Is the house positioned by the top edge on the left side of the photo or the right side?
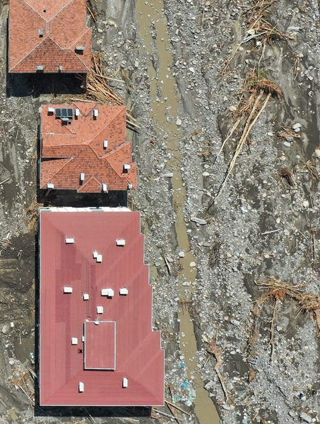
left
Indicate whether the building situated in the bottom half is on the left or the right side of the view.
left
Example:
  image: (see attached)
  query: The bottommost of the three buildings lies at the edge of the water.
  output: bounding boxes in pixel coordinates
[38,200,165,407]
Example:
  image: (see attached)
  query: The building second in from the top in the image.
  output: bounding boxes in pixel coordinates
[39,103,137,192]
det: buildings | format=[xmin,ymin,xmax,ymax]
[8,0,92,73]
[39,103,137,192]
[38,200,165,407]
